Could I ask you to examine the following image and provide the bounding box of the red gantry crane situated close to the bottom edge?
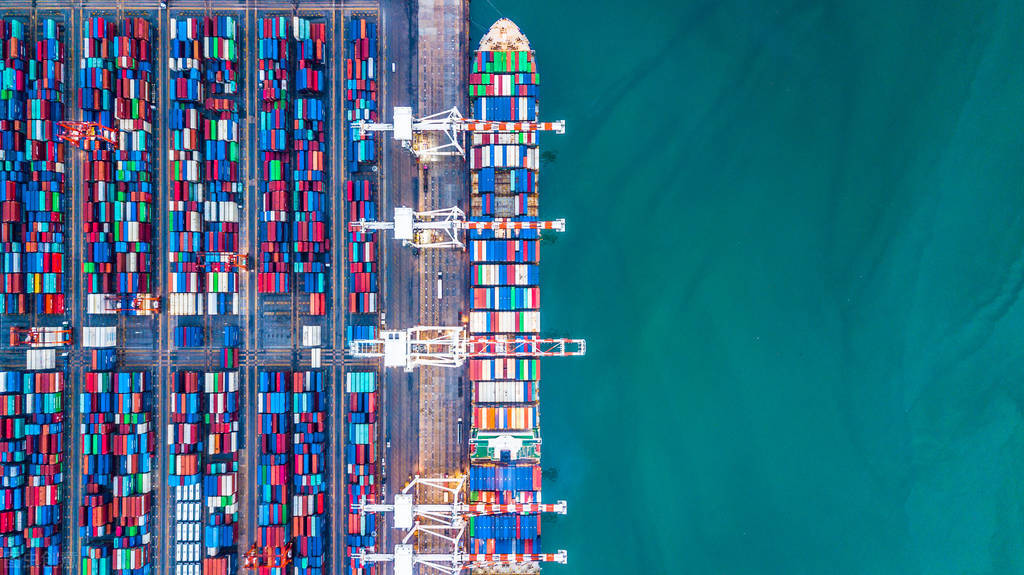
[241,542,293,574]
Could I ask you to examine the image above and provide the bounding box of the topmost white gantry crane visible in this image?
[351,107,566,162]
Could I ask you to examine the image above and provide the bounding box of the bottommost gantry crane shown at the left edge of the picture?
[10,326,73,345]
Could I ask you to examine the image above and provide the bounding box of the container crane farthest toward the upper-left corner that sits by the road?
[57,122,118,148]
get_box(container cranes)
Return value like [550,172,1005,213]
[241,542,293,574]
[351,107,566,162]
[193,252,247,270]
[351,515,566,575]
[57,122,118,148]
[351,204,566,253]
[10,326,73,345]
[351,319,585,371]
[351,469,566,529]
[101,295,160,313]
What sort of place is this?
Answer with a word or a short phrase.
port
